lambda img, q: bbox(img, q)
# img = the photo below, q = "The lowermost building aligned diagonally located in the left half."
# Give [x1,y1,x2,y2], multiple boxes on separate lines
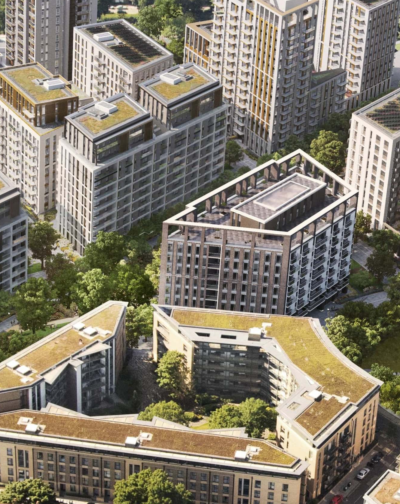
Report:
[0,302,128,416]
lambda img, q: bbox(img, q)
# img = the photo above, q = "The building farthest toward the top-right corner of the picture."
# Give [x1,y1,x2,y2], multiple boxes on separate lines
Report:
[312,0,400,100]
